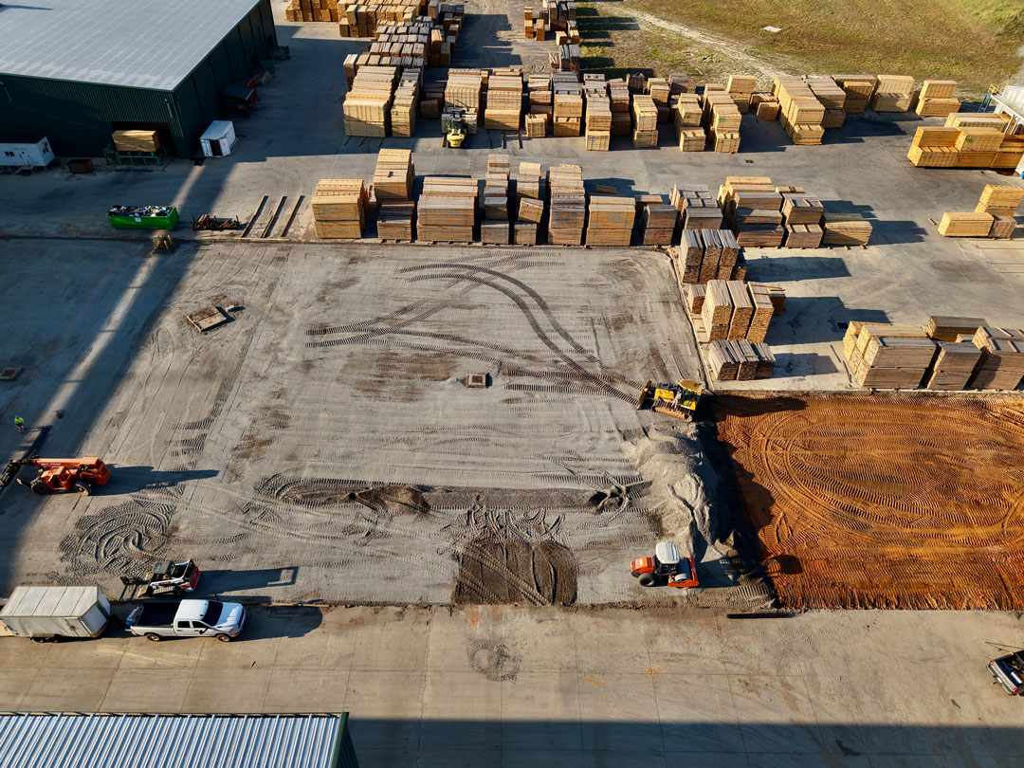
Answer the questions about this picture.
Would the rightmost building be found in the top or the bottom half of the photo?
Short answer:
top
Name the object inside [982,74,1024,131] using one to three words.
building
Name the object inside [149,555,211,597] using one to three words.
work vehicle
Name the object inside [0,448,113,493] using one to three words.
work vehicle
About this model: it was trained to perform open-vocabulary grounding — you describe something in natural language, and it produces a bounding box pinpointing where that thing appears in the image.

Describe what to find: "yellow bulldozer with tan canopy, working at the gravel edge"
[637,378,706,426]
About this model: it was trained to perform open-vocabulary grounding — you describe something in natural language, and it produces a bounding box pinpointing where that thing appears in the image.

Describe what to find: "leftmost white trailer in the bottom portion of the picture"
[0,577,127,639]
